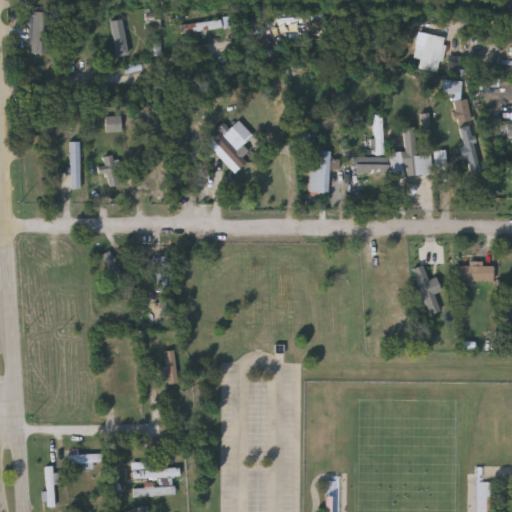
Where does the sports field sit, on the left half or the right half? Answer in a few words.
right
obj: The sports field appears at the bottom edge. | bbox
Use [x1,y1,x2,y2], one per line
[355,400,460,512]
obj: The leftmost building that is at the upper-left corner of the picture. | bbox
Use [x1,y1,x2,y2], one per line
[29,12,46,54]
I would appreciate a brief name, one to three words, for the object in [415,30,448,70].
building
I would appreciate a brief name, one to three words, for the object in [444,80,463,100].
building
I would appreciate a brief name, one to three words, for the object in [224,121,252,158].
house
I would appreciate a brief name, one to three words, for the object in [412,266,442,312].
house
